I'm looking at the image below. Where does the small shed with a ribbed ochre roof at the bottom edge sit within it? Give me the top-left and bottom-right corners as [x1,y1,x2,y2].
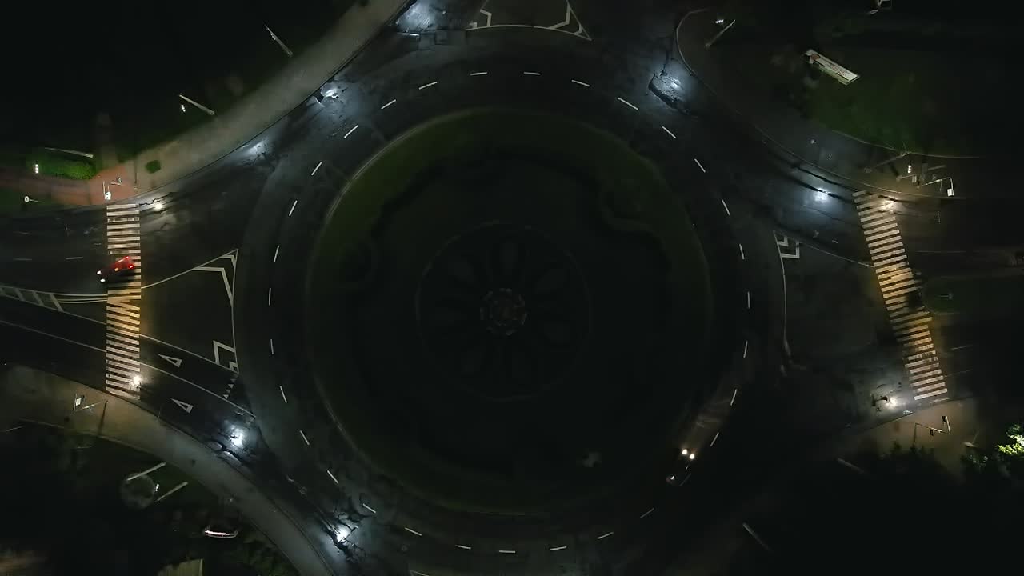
[159,548,210,576]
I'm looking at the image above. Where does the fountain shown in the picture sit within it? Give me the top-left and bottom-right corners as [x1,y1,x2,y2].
[480,288,526,334]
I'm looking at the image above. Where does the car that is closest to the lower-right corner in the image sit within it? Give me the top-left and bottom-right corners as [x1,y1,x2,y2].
[667,450,694,486]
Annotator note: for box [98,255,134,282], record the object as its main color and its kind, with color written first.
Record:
red car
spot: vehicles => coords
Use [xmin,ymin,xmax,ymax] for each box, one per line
[98,255,134,282]
[667,450,694,486]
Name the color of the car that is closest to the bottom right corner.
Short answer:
black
